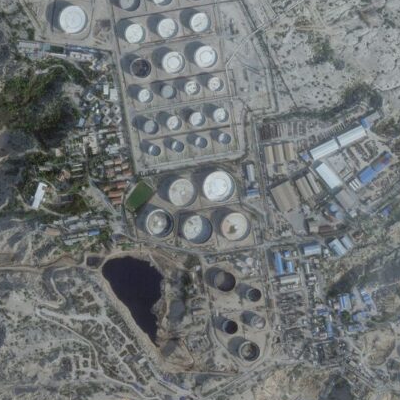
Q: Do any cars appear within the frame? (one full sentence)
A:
No, no car is visible in the view.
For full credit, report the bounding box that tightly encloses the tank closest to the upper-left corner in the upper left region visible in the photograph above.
[57,4,88,35]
